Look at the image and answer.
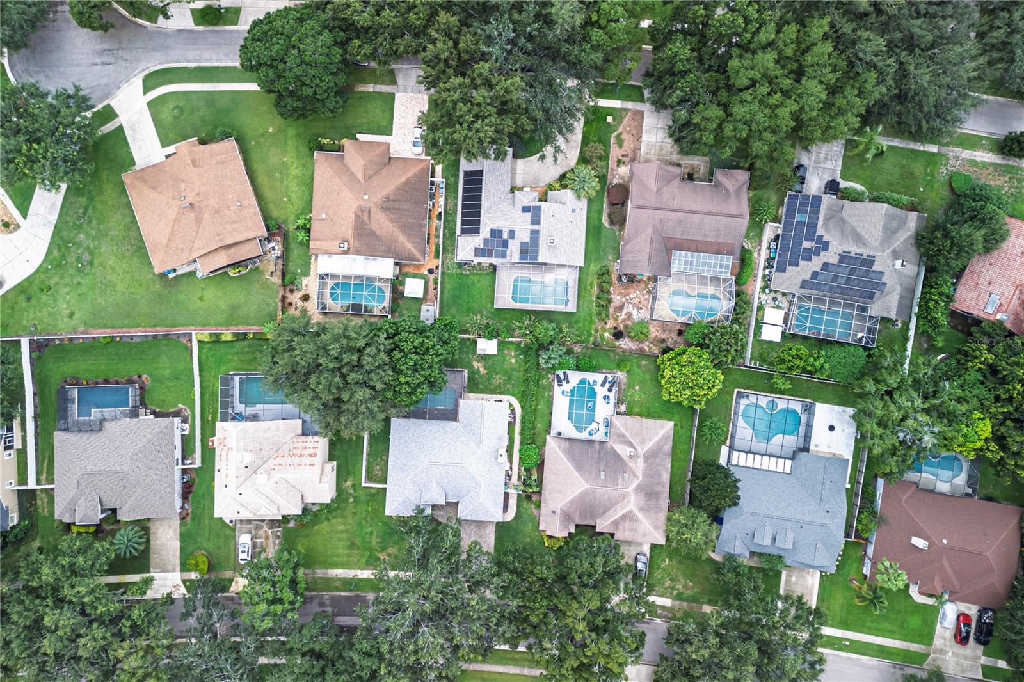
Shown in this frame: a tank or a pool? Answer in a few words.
pool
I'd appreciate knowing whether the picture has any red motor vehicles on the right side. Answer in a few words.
Yes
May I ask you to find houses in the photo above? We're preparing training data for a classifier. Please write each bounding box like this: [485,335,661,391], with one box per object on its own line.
[54,417,184,524]
[0,427,24,531]
[204,419,339,520]
[862,479,1024,609]
[121,137,271,274]
[309,141,431,278]
[713,450,849,573]
[385,399,509,522]
[769,192,928,321]
[619,161,750,278]
[455,145,587,266]
[539,415,674,545]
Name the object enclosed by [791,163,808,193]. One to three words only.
car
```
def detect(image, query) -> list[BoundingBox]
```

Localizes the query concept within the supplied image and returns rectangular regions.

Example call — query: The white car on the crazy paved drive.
[235,532,252,565]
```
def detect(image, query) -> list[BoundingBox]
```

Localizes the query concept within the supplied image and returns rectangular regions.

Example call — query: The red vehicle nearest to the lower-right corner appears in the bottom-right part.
[953,612,973,646]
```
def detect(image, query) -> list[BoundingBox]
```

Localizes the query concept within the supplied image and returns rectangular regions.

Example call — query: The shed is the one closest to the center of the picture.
[476,338,498,355]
